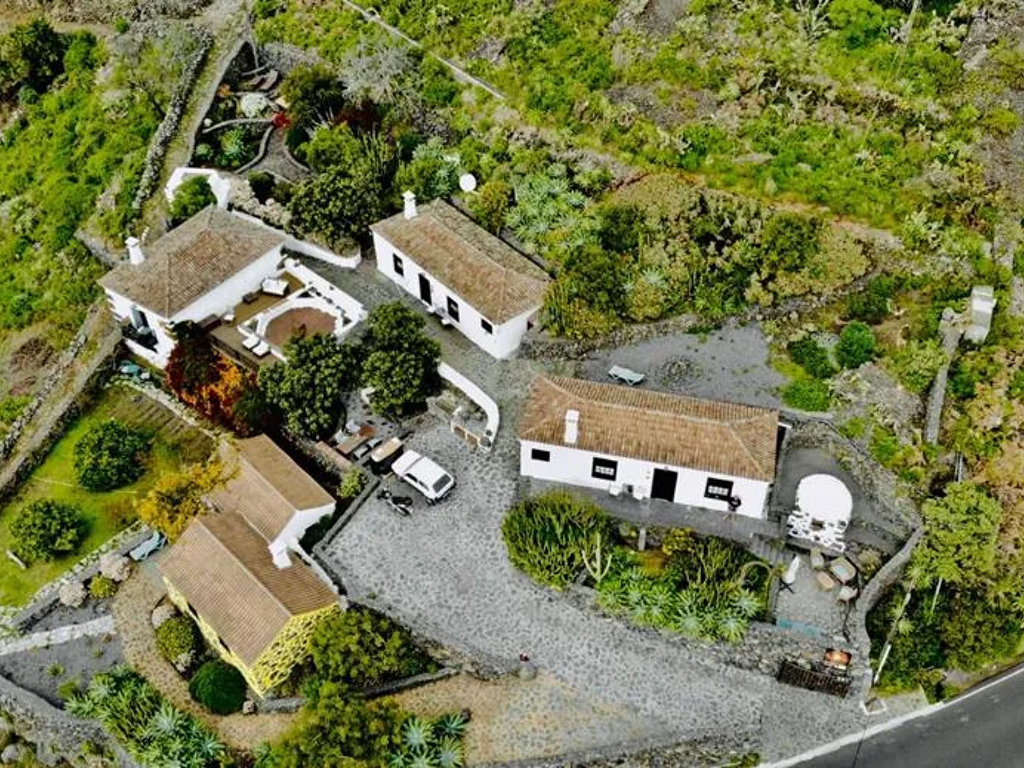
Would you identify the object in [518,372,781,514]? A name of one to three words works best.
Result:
house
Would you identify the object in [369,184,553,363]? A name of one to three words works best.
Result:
house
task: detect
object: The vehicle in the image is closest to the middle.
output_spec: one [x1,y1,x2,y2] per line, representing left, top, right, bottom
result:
[390,450,457,504]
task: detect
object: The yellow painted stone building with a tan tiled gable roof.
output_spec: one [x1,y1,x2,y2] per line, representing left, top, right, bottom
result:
[157,511,355,691]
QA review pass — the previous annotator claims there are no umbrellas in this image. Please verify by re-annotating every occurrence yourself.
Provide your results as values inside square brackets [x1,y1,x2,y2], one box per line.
[776,559,798,601]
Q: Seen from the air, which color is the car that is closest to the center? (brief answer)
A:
white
